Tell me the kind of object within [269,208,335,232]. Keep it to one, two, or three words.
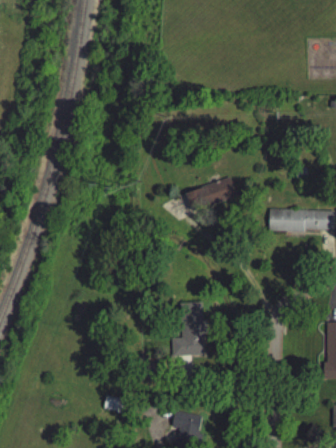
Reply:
house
